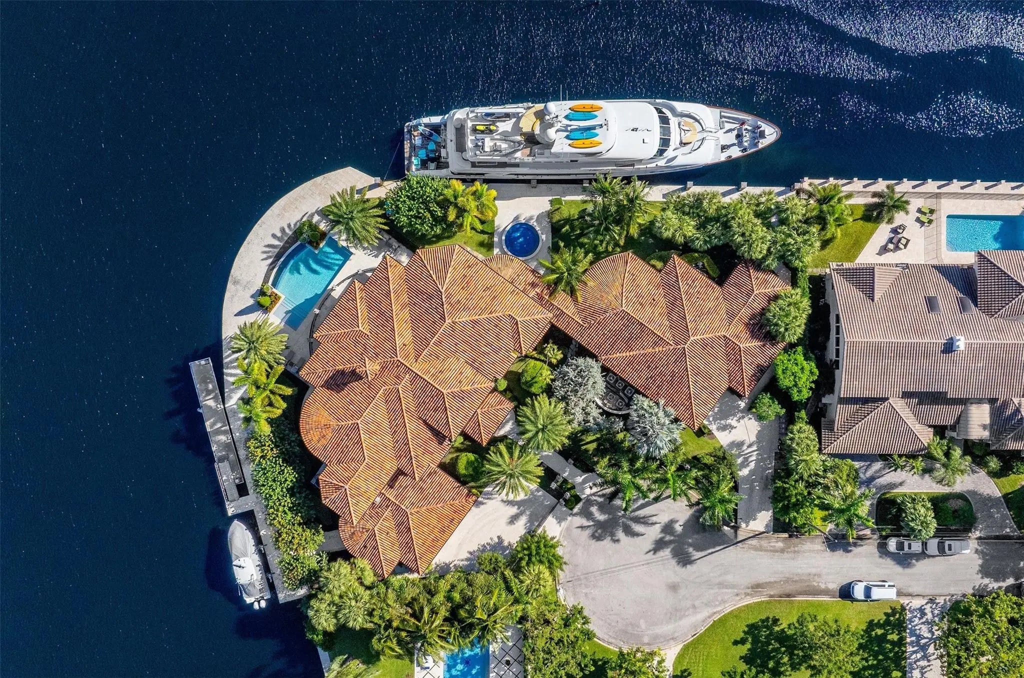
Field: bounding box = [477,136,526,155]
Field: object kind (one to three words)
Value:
boat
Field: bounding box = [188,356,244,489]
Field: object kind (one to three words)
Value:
pier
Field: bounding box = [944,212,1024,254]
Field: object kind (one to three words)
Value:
swimming pool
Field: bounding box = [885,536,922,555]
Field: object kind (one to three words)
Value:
car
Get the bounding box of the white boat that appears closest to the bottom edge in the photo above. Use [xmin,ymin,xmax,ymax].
[230,521,272,610]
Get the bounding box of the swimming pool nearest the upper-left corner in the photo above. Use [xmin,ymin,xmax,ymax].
[267,237,352,330]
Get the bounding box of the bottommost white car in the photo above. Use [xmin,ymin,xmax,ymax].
[850,580,897,602]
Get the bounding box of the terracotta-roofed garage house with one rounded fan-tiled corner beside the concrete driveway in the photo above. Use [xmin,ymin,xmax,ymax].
[485,252,792,431]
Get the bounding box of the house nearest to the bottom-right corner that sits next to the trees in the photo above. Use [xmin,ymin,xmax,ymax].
[816,250,1024,453]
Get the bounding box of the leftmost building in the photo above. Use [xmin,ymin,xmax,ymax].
[298,245,554,576]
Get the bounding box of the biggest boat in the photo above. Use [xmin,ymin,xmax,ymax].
[405,88,781,178]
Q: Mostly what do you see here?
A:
water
